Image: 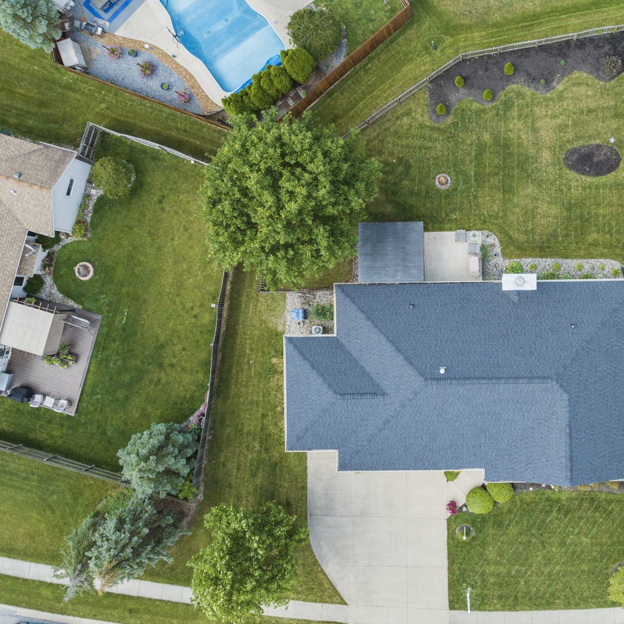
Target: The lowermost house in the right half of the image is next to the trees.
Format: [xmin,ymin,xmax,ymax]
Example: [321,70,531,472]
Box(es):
[283,274,624,495]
